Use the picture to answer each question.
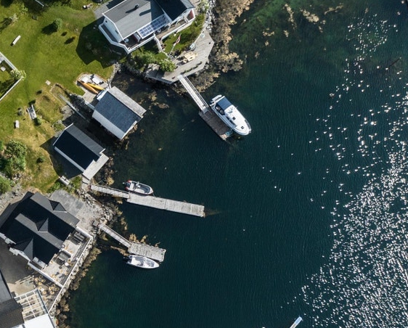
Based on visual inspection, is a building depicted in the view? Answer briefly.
Yes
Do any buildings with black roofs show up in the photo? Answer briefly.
Yes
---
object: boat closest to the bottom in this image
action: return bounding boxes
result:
[124,253,159,269]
